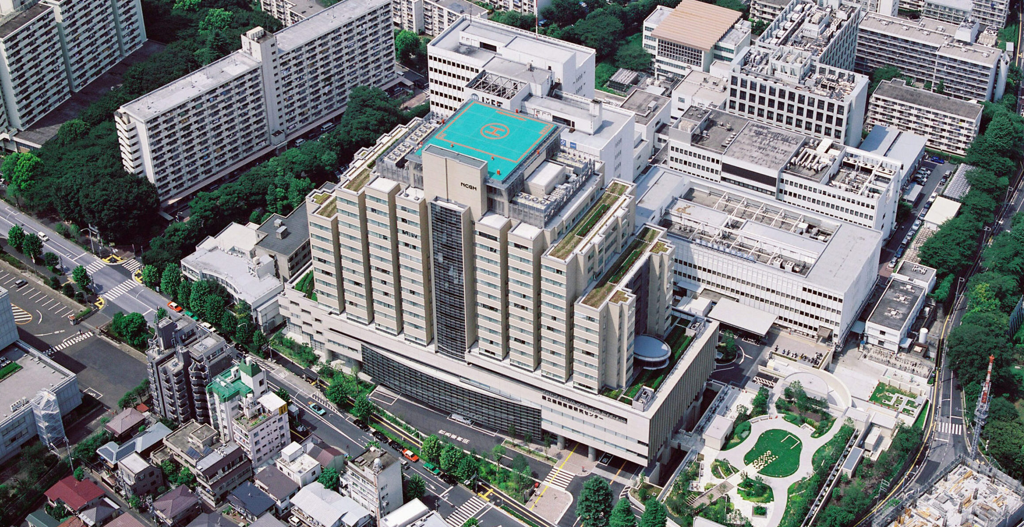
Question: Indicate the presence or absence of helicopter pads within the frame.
Yes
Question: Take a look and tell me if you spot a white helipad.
No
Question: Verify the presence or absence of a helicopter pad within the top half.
Yes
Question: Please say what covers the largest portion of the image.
buildings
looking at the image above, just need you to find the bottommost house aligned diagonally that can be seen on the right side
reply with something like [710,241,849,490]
[841,447,864,480]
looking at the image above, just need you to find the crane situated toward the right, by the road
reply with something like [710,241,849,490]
[969,357,994,460]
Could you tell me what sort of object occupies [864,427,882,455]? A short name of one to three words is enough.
house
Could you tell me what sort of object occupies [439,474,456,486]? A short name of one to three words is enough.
vehicle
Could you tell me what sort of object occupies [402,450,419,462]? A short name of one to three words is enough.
vehicle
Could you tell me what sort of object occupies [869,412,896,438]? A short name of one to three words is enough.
building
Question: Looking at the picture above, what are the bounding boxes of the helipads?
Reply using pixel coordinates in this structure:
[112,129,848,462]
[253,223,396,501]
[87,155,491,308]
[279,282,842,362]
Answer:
[407,97,561,187]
